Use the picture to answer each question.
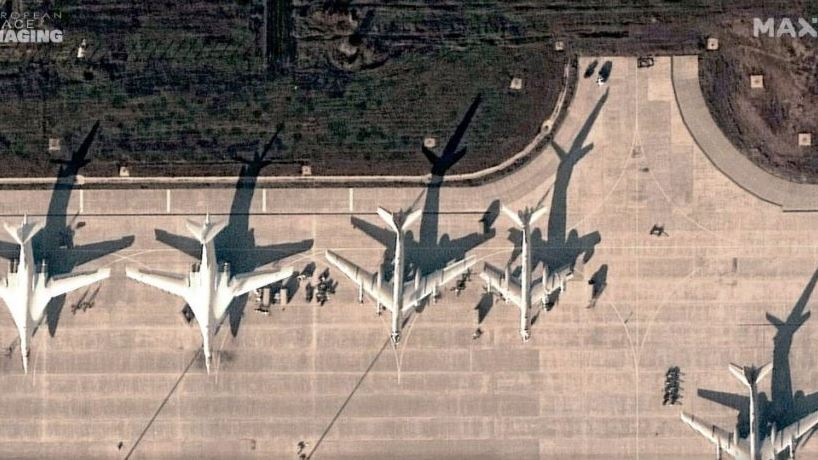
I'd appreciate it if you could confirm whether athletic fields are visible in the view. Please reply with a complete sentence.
No, no athletic field is visible in the view.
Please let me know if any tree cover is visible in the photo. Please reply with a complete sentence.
No, no tree cover is visible.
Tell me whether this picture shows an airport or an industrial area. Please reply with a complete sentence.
This image shows an airport.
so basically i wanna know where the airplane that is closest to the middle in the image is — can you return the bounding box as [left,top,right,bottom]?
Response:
[328,201,471,350]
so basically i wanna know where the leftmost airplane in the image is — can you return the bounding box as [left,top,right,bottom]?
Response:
[0,214,107,373]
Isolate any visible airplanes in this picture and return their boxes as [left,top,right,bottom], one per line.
[328,201,471,350]
[0,214,107,373]
[682,364,818,460]
[128,213,288,375]
[478,201,571,346]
